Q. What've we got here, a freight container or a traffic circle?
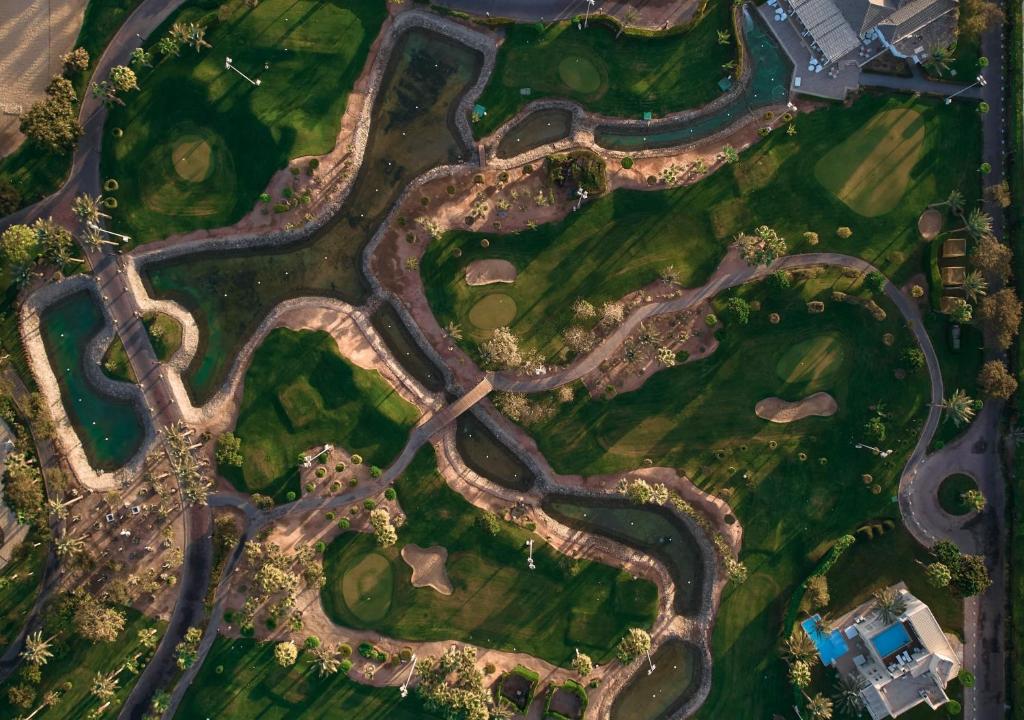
traffic circle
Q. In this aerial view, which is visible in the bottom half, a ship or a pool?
pool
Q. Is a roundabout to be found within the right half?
Yes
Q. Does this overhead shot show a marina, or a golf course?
golf course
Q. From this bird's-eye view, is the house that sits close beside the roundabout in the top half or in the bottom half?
bottom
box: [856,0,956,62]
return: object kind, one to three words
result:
building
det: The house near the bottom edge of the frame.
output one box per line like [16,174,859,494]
[848,585,962,720]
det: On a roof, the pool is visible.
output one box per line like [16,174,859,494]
[870,620,914,659]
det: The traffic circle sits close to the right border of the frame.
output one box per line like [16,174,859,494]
[911,418,1003,552]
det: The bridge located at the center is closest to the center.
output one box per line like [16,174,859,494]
[437,377,494,423]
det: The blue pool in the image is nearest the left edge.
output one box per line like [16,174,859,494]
[800,612,850,667]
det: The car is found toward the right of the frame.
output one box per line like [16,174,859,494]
[951,324,964,348]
